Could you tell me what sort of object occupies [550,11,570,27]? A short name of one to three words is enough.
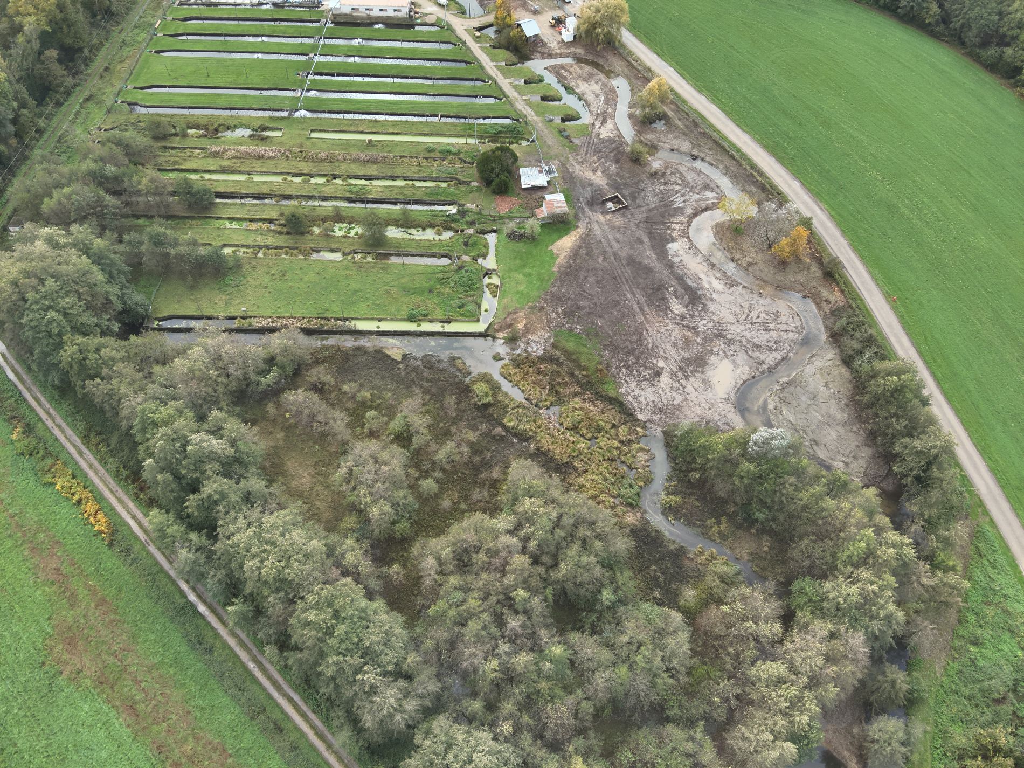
work vehicle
